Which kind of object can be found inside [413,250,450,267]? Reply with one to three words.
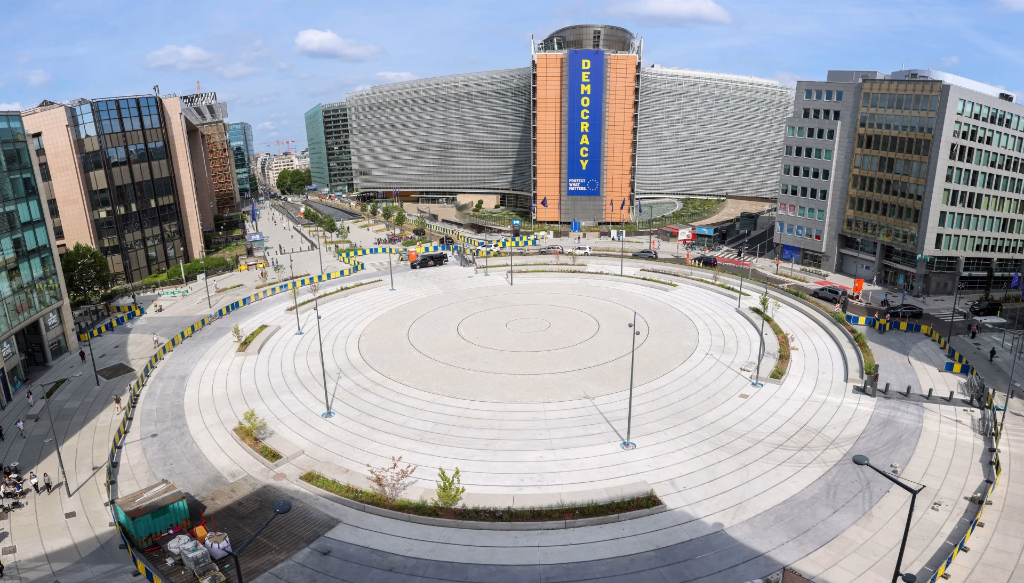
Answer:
vehicle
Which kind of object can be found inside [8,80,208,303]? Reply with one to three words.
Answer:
building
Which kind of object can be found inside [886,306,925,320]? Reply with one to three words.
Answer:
car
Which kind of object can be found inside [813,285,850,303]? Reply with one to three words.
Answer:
vehicle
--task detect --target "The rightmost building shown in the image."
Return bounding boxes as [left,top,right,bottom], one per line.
[773,61,1024,296]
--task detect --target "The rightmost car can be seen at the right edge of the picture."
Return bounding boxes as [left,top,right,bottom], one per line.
[974,302,1001,318]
